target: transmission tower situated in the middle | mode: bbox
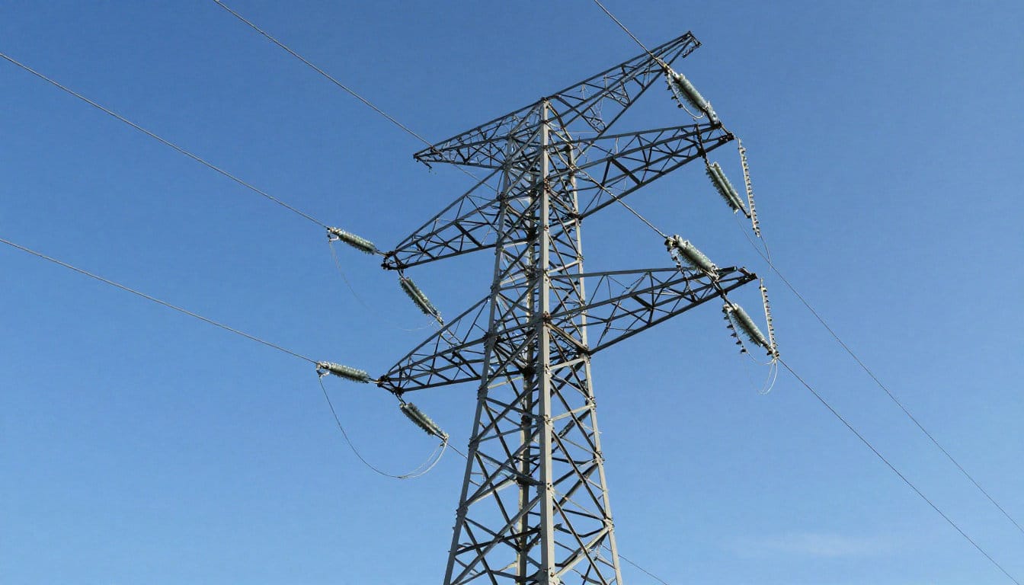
[380,30,758,585]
